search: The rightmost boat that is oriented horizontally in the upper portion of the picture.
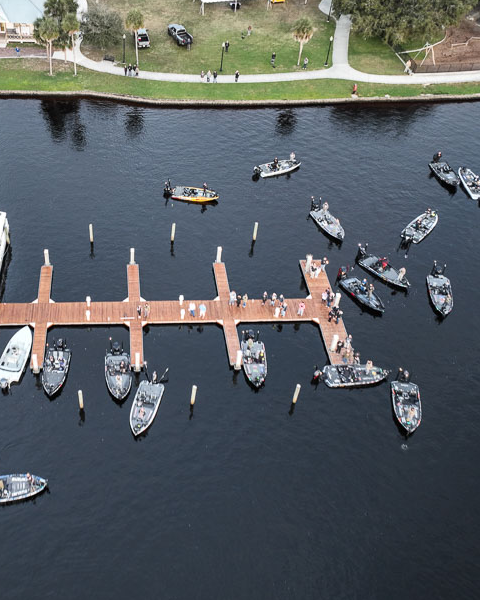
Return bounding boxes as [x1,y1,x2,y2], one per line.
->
[256,158,303,178]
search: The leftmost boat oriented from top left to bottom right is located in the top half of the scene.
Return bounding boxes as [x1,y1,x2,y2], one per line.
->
[308,198,346,242]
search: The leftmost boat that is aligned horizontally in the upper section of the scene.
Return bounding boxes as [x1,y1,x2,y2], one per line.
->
[166,177,221,203]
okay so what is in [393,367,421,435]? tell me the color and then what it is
gray boat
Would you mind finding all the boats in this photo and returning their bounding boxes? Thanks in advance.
[360,244,413,291]
[428,262,452,317]
[0,475,48,505]
[317,360,389,388]
[106,340,131,404]
[0,324,33,390]
[430,154,463,191]
[308,198,346,242]
[41,334,70,398]
[340,265,388,316]
[130,367,170,437]
[393,367,421,435]
[398,209,439,247]
[166,177,221,203]
[458,164,480,202]
[256,158,303,178]
[242,326,267,390]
